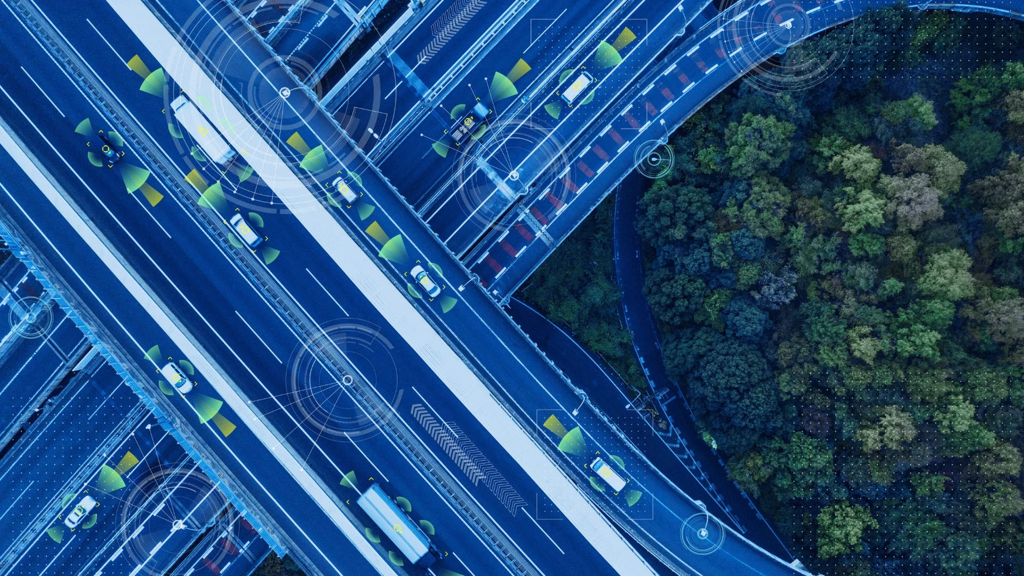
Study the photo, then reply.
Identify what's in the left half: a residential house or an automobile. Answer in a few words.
automobile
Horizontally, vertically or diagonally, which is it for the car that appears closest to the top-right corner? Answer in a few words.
diagonally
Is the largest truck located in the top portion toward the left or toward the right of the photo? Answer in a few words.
left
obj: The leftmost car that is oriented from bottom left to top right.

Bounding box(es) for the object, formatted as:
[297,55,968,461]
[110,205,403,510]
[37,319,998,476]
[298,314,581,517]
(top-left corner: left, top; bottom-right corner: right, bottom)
[64,495,98,529]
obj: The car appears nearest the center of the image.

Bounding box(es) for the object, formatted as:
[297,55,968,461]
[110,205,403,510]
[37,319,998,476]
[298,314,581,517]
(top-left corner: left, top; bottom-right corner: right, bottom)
[410,265,442,298]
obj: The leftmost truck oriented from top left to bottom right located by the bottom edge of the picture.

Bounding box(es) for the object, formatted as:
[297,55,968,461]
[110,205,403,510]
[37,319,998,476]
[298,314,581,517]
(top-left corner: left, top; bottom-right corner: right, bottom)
[357,480,445,576]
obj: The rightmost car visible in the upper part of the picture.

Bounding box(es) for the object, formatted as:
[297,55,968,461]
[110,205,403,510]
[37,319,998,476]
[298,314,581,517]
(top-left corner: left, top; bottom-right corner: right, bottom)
[561,73,593,105]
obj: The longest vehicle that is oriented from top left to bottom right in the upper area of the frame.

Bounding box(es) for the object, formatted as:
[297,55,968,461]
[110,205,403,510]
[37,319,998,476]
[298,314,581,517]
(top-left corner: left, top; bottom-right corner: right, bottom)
[169,93,244,170]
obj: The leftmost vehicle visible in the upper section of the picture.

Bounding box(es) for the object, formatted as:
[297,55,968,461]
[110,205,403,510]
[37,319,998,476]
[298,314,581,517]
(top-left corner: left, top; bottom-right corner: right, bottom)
[93,134,123,163]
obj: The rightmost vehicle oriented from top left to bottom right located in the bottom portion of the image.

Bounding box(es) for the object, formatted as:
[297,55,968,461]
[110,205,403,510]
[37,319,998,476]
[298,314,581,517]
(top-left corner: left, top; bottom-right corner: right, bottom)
[590,456,627,493]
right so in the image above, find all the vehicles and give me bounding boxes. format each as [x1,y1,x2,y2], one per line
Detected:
[332,176,359,204]
[93,134,123,163]
[357,480,445,576]
[446,100,490,146]
[561,73,593,105]
[64,495,98,529]
[590,456,627,493]
[160,360,195,394]
[410,265,442,298]
[230,213,263,248]
[169,93,244,170]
